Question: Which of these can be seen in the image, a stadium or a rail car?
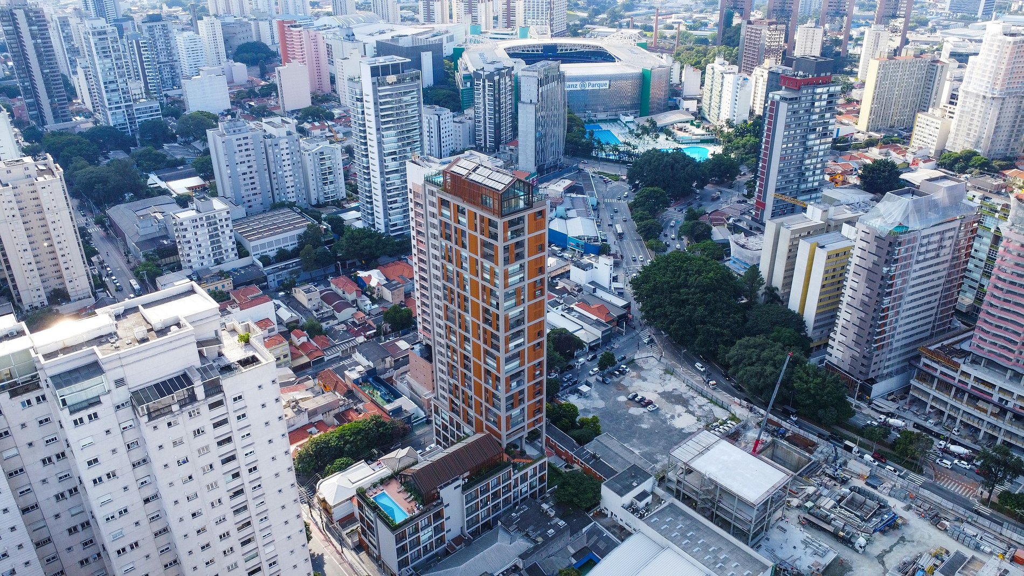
stadium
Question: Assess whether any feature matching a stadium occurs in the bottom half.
No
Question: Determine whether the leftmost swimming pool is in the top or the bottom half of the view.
bottom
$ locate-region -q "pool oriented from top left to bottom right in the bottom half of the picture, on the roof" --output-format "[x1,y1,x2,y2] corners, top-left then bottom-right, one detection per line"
[371,492,410,525]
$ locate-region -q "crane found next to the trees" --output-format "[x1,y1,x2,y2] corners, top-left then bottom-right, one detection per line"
[752,350,797,459]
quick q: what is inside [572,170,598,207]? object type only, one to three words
building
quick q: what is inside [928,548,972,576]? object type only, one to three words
building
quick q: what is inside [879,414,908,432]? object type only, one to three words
vehicle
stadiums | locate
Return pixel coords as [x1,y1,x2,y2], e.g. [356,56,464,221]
[458,23,685,118]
